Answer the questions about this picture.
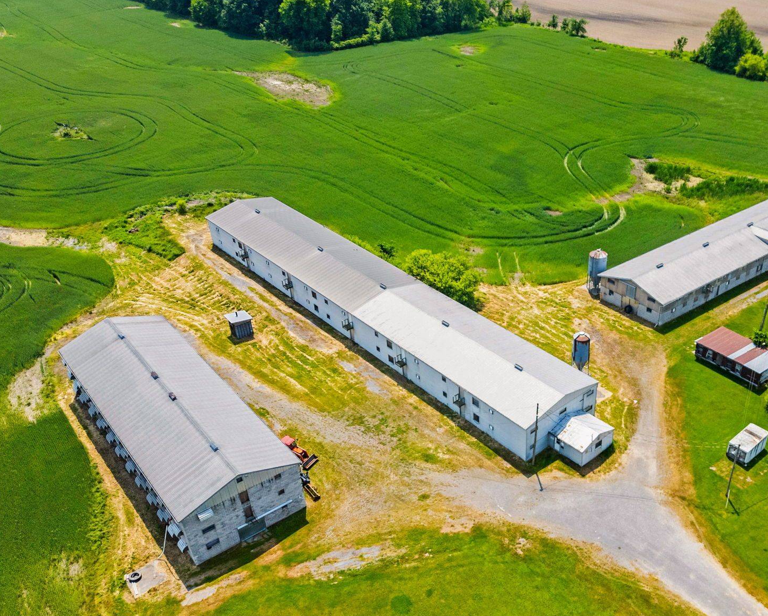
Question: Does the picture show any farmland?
Yes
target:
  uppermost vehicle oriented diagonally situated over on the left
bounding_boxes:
[281,434,322,470]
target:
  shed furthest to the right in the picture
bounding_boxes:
[695,323,768,387]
